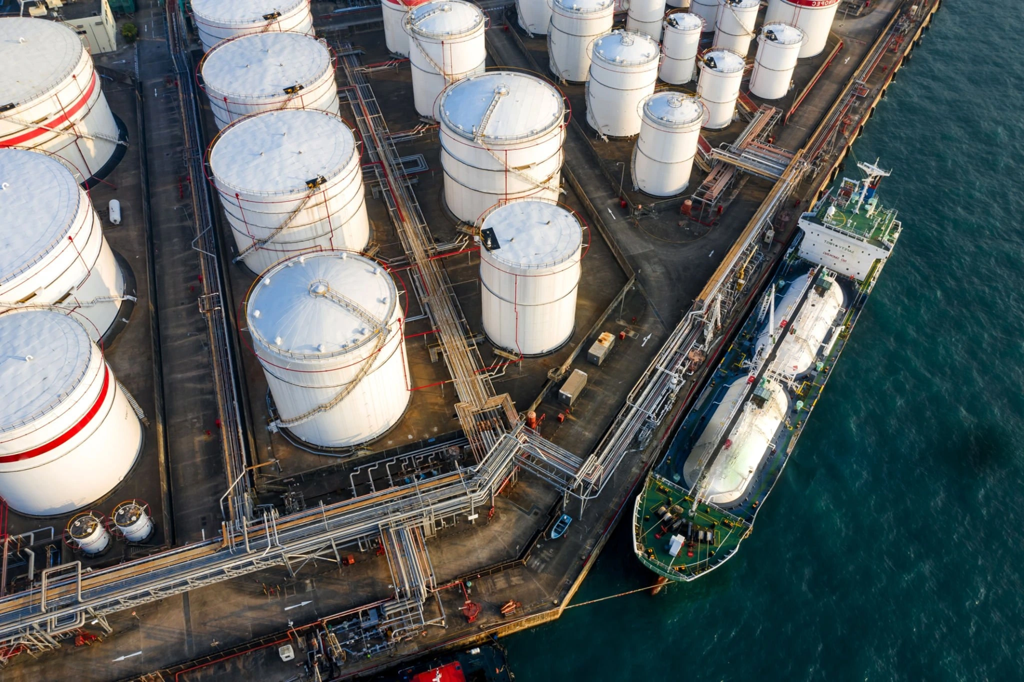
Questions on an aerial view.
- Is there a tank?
Yes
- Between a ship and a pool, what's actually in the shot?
ship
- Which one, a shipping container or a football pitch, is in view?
shipping container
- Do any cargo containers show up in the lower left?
No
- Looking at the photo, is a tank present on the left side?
Yes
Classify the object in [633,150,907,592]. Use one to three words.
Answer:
ship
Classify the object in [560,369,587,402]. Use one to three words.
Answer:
shipping container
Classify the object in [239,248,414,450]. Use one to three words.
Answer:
storage tank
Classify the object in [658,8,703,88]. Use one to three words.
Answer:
storage tank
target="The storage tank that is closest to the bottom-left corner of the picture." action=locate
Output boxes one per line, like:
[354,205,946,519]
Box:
[65,510,114,558]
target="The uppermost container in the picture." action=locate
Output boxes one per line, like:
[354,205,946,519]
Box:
[589,330,616,363]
